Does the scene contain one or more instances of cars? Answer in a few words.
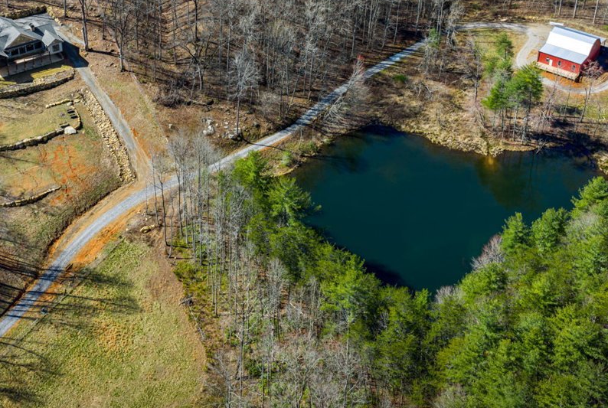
No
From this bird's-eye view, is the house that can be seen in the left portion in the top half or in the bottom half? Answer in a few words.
top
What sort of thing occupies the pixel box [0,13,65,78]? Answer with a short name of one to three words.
house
